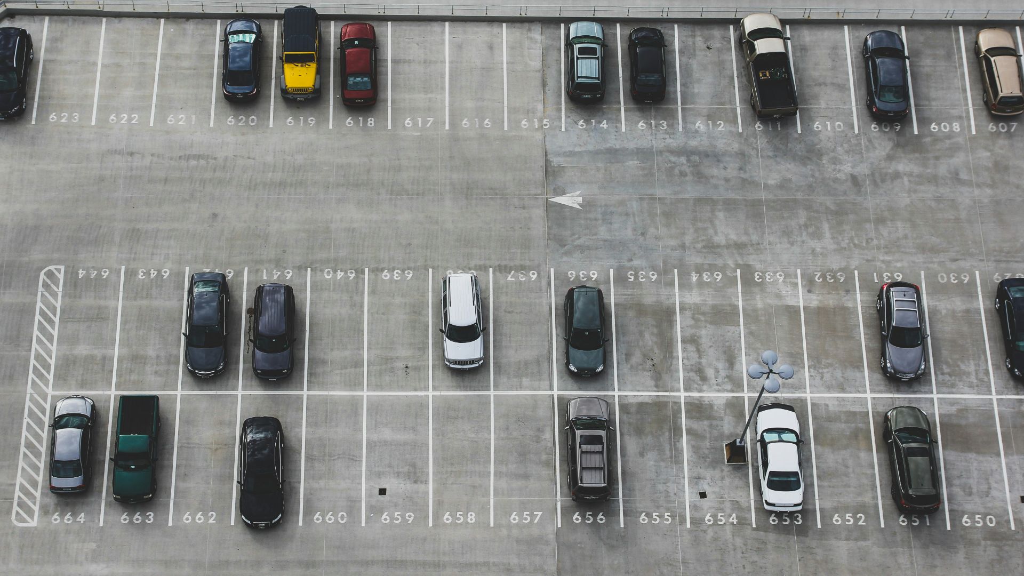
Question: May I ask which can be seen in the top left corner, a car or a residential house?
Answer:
car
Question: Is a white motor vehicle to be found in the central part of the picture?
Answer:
Yes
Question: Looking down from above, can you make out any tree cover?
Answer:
No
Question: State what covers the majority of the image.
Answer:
paved ground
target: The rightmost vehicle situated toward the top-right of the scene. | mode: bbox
[976,29,1024,114]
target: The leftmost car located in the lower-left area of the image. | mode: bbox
[46,396,97,492]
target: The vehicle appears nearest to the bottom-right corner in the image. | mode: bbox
[884,406,943,511]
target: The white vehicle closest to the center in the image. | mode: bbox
[437,273,489,370]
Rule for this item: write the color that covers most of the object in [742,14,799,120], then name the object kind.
black truck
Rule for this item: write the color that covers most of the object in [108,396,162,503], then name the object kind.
black truck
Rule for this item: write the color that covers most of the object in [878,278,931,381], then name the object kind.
gray car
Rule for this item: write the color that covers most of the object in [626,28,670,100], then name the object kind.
black car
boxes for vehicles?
[863,31,912,116]
[247,282,299,381]
[235,415,288,530]
[884,406,943,511]
[564,399,617,500]
[0,29,35,119]
[335,24,379,104]
[437,273,489,370]
[755,404,805,511]
[218,20,264,100]
[108,396,162,503]
[997,280,1024,381]
[563,22,611,101]
[181,271,231,378]
[976,29,1024,114]
[46,396,97,492]
[561,283,611,378]
[279,4,322,100]
[878,278,931,381]
[742,14,799,120]
[626,28,670,100]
